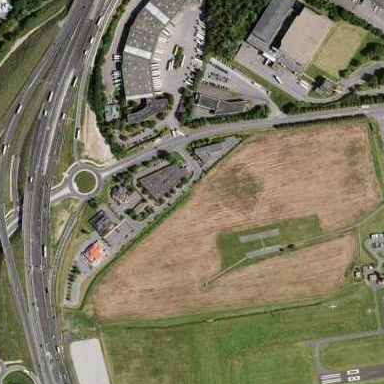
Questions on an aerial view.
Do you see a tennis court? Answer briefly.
No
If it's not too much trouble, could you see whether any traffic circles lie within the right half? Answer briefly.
No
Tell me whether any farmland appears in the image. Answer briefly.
Yes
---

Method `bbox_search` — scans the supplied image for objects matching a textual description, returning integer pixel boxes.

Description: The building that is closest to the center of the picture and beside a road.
[139,165,181,200]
